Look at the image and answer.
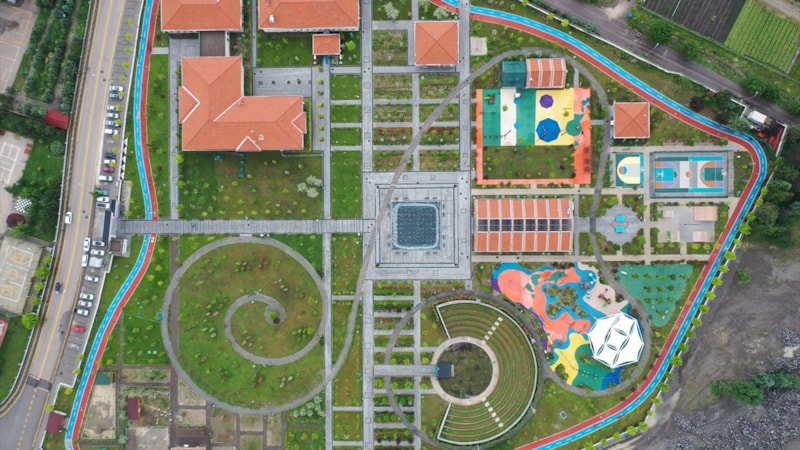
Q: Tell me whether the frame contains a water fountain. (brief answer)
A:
Yes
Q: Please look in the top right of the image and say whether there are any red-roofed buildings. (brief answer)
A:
Yes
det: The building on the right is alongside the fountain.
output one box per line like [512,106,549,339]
[475,198,576,252]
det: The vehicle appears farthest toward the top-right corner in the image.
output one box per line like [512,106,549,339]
[752,108,775,125]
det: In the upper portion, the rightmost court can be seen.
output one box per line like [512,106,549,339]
[651,152,731,198]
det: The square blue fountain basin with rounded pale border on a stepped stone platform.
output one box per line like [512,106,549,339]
[376,183,459,267]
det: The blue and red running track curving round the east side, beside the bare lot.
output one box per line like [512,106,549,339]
[425,0,770,450]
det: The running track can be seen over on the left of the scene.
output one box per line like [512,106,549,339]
[66,0,160,438]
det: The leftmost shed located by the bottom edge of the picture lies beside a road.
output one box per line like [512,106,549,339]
[47,410,70,434]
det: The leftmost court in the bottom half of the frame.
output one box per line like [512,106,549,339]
[0,234,43,314]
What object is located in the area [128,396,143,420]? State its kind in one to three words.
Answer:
shed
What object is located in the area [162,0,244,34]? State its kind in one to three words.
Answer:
house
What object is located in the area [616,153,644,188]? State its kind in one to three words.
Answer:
basketball court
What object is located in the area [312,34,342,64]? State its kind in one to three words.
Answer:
building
